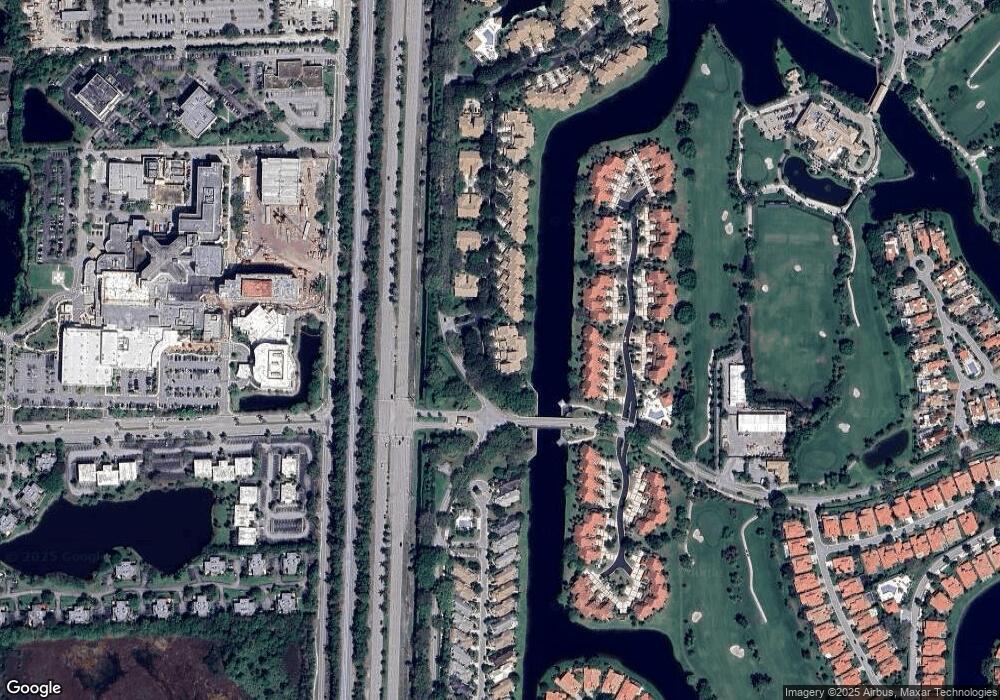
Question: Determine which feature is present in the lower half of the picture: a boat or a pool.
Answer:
pool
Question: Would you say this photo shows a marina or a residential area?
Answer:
residential area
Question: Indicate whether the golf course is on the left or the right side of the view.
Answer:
right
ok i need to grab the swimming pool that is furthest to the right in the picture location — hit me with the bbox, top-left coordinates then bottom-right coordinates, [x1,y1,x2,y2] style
[964,359,980,377]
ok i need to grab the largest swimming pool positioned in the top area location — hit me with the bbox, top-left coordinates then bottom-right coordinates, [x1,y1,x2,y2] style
[466,18,502,62]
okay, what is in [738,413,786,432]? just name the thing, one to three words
shed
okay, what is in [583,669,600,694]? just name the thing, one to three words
house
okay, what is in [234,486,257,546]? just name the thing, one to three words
building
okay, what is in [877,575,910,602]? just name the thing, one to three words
swimming pool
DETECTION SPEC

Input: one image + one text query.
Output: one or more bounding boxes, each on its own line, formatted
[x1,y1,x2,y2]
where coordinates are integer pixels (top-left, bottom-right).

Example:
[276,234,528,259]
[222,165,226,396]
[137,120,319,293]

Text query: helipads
[52,270,64,283]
